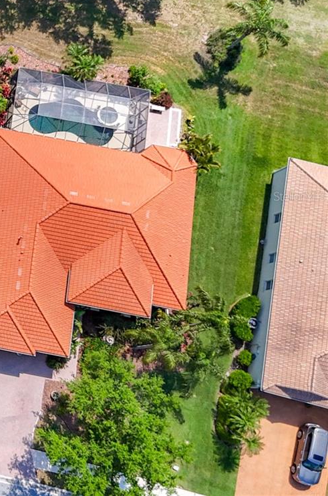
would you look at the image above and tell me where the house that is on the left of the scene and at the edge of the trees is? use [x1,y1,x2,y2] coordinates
[0,128,200,358]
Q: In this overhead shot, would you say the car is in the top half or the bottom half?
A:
bottom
